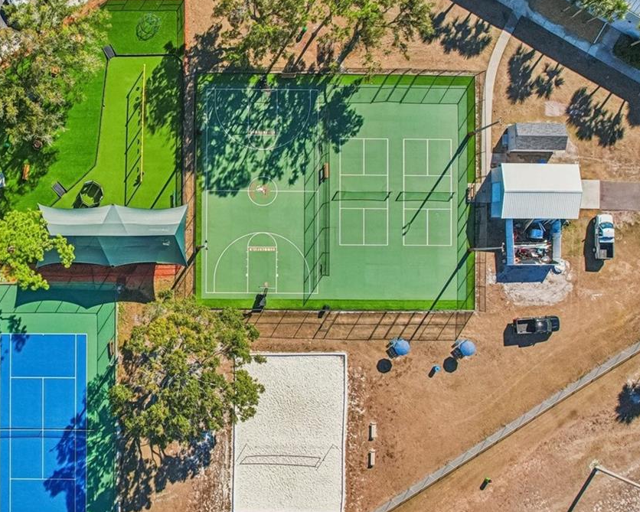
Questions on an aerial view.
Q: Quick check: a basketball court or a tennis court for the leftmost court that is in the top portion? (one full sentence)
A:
It turns out the leftmost court that is in the top portion is a basketball court.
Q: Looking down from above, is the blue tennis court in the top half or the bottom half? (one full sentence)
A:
Seen from above, the blue tennis court lies in the bottom half of the view.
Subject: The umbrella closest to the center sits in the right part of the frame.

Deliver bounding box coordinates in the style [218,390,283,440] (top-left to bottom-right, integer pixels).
[394,340,409,355]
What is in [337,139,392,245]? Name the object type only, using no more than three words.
sports court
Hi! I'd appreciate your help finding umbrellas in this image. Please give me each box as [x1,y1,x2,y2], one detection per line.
[459,341,475,356]
[394,340,409,355]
